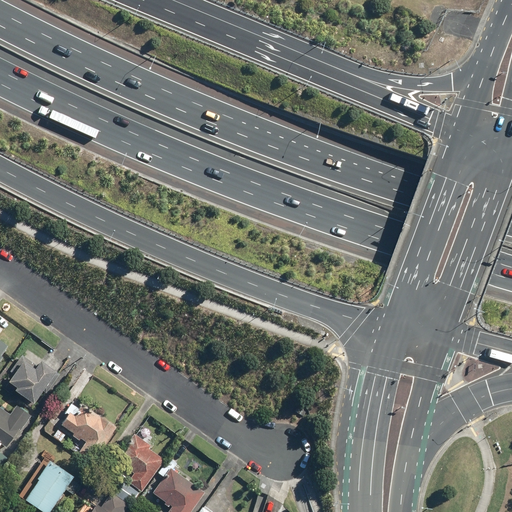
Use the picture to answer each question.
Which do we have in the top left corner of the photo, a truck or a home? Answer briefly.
truck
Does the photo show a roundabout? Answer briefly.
No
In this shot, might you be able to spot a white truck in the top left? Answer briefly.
Yes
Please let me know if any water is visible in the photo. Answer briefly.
No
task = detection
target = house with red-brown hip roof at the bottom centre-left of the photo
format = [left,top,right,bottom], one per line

[154,469,204,512]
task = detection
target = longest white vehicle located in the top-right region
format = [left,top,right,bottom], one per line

[390,92,430,116]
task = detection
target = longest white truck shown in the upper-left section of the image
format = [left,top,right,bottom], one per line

[40,104,99,138]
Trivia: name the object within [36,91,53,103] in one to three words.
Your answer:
vehicle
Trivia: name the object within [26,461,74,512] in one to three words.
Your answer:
house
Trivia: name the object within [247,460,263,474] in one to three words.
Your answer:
vehicle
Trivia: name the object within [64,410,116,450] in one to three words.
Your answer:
house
